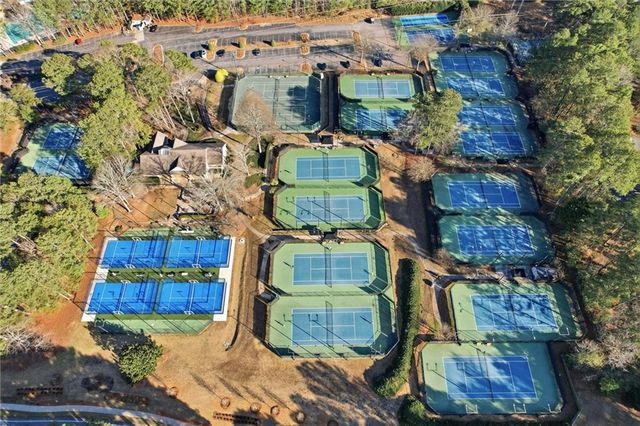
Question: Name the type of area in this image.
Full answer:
This looks like a sports ground.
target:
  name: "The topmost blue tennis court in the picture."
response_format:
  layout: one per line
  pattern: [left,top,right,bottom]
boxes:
[391,11,461,29]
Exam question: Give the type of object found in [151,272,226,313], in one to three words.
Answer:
sports court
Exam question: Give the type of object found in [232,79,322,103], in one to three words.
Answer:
tennis court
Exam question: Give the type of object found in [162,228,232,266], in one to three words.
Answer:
sports court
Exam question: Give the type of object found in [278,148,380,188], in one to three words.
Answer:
tennis court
